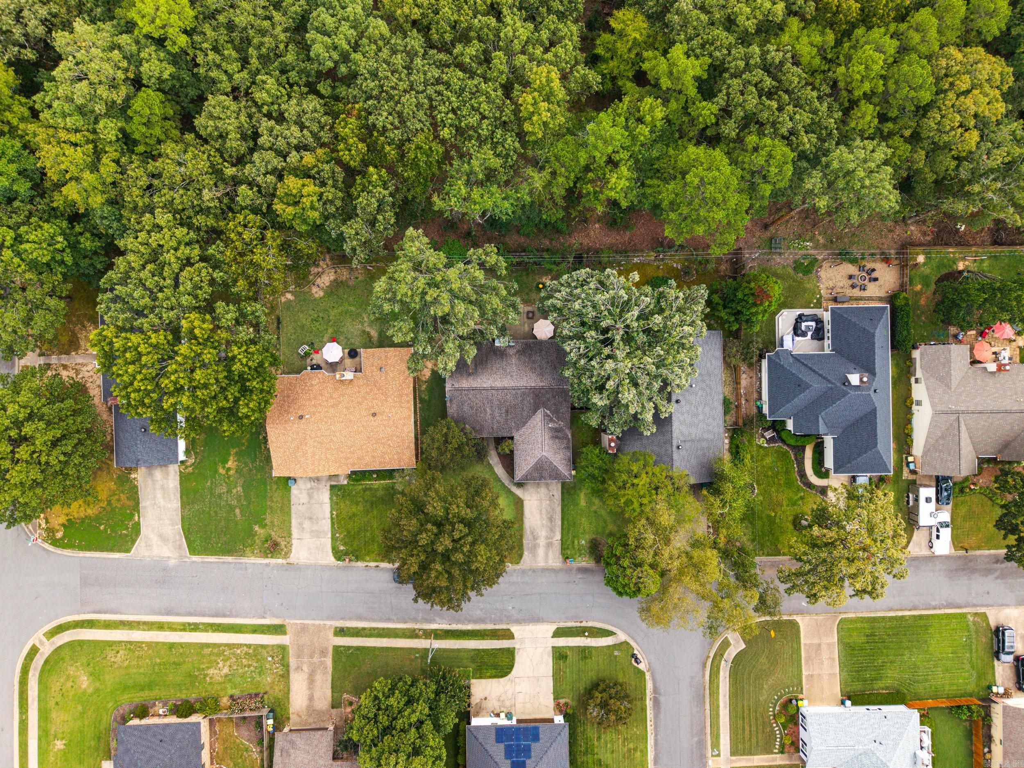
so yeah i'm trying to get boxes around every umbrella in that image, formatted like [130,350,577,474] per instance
[533,319,552,340]
[991,319,1015,342]
[970,341,993,361]
[323,342,343,362]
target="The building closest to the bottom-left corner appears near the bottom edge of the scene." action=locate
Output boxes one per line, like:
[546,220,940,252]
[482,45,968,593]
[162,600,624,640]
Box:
[113,714,209,768]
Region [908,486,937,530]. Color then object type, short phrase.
white vehicle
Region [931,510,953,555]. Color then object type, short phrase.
white truck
